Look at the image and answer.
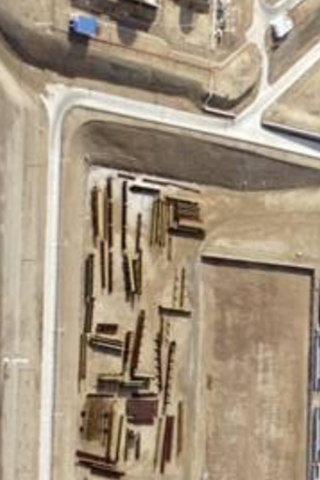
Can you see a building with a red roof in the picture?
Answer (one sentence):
No, no building with a red roof is visible in the scene.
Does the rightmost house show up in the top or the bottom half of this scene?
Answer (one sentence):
Seen from above, the rightmost house lies in the top half of the view.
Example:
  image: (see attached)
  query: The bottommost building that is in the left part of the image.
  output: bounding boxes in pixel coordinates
[67,13,101,39]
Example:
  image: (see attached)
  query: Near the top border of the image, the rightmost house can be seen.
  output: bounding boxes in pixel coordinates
[267,15,294,39]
